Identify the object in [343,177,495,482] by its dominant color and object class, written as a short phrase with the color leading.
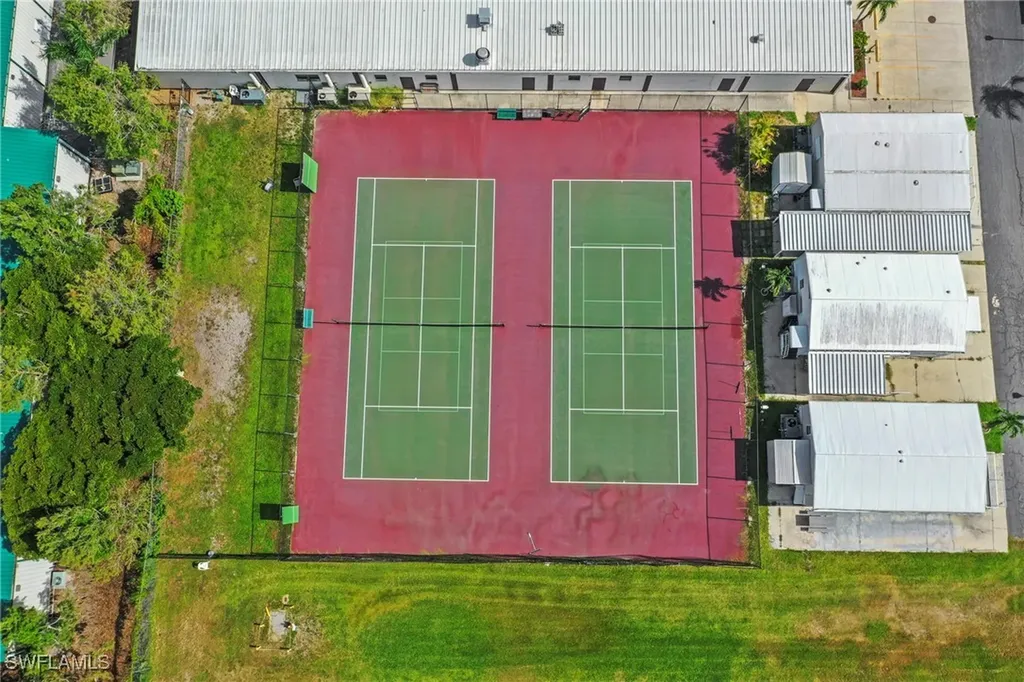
green tennis court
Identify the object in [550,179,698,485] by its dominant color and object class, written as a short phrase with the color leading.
green tennis court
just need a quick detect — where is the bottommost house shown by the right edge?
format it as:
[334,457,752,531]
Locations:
[798,400,988,515]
